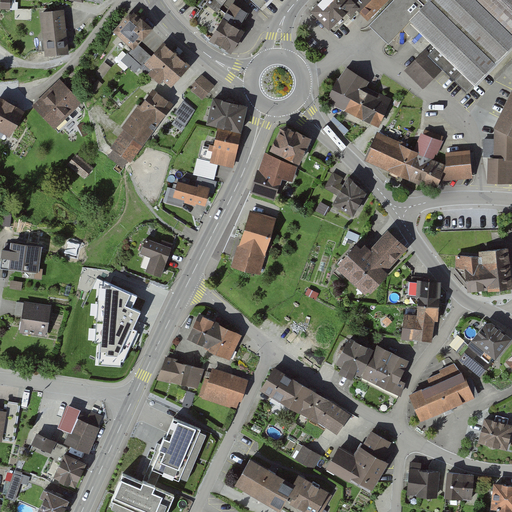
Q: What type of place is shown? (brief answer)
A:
residential area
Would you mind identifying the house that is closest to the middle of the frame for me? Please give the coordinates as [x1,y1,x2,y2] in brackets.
[230,210,276,276]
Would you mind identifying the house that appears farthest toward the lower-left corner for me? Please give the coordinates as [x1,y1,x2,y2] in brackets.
[2,474,30,502]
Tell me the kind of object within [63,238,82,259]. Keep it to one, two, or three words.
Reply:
building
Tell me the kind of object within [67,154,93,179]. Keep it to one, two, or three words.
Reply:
shed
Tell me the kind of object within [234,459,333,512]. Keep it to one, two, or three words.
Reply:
house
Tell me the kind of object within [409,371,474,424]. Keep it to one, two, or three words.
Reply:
barn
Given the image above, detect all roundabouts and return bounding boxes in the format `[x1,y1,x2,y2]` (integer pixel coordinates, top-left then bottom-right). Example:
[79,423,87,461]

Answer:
[242,46,314,118]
